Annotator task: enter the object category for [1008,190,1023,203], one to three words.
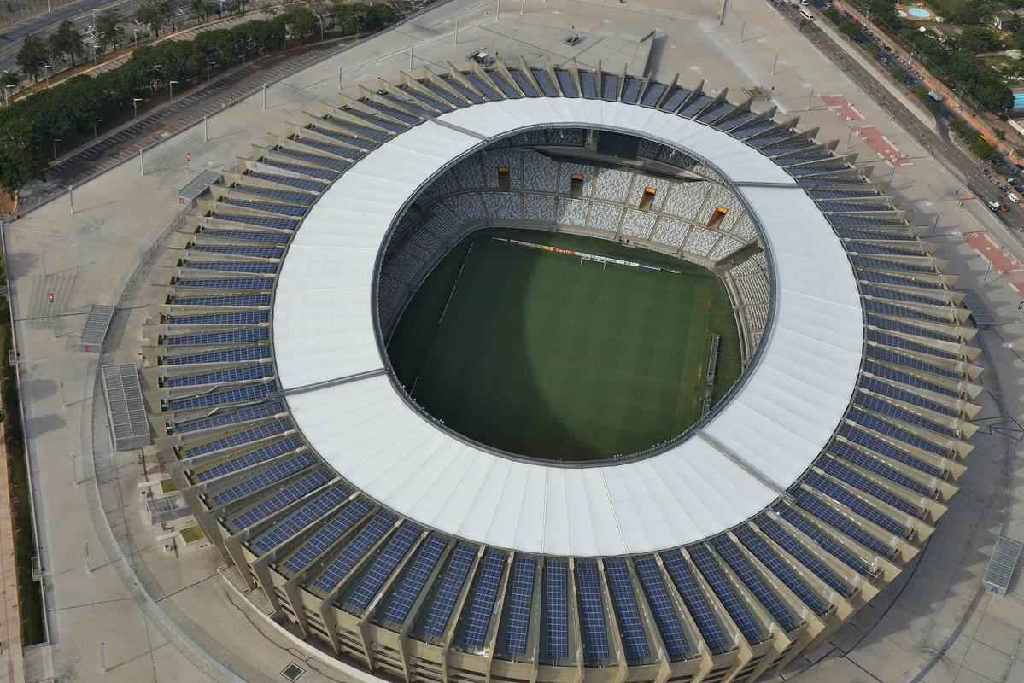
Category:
vehicle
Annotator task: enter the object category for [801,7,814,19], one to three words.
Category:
vehicle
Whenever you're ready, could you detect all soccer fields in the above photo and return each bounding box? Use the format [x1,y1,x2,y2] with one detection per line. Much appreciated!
[386,224,742,463]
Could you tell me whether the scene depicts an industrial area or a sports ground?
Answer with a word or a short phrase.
sports ground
